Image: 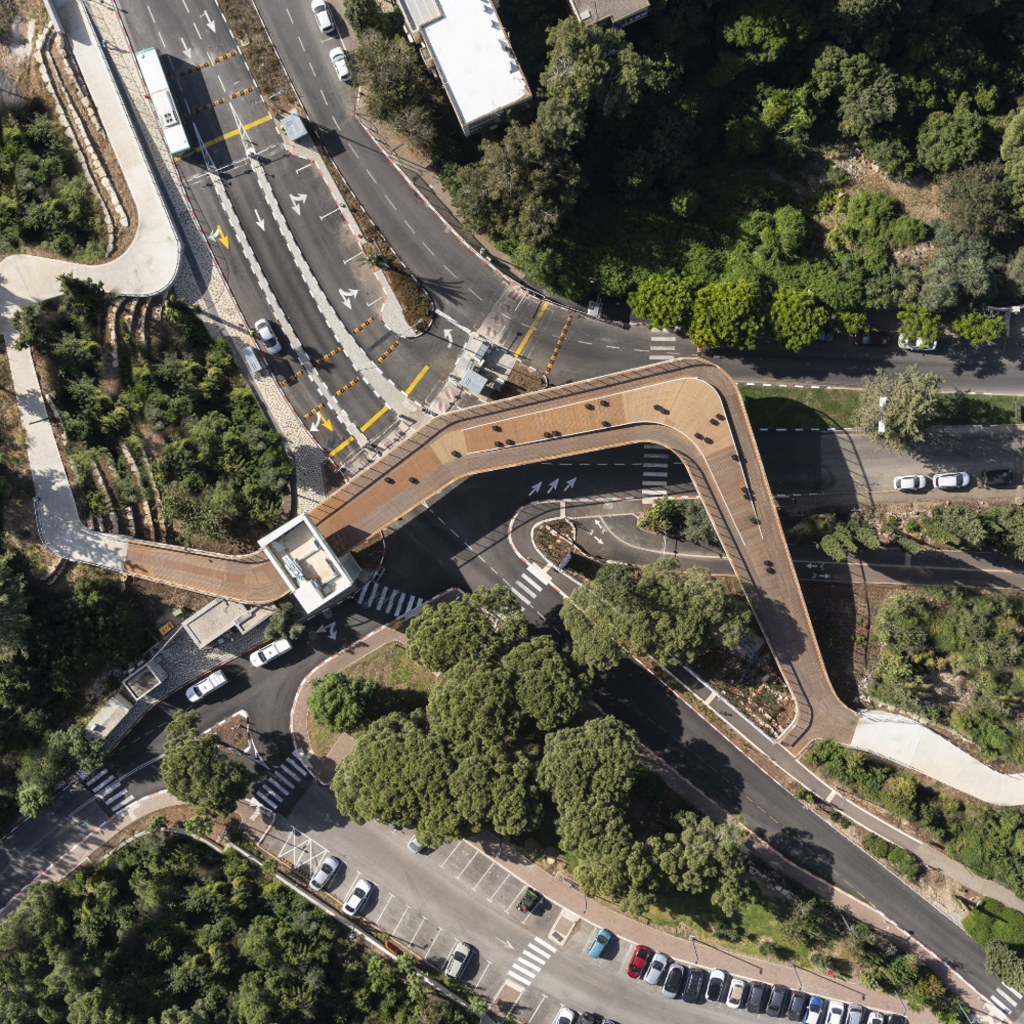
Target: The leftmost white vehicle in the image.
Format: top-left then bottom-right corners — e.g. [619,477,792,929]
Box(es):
[132,46,194,160]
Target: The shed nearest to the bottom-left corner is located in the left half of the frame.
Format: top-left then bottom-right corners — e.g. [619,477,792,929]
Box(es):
[87,689,141,737]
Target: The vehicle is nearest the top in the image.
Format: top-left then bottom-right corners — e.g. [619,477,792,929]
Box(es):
[311,0,336,38]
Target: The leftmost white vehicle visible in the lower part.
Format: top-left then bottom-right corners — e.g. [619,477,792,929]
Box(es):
[185,669,230,702]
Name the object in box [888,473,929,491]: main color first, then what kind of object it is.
white car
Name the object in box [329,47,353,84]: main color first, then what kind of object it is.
white car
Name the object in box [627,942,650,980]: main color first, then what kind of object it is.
red car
